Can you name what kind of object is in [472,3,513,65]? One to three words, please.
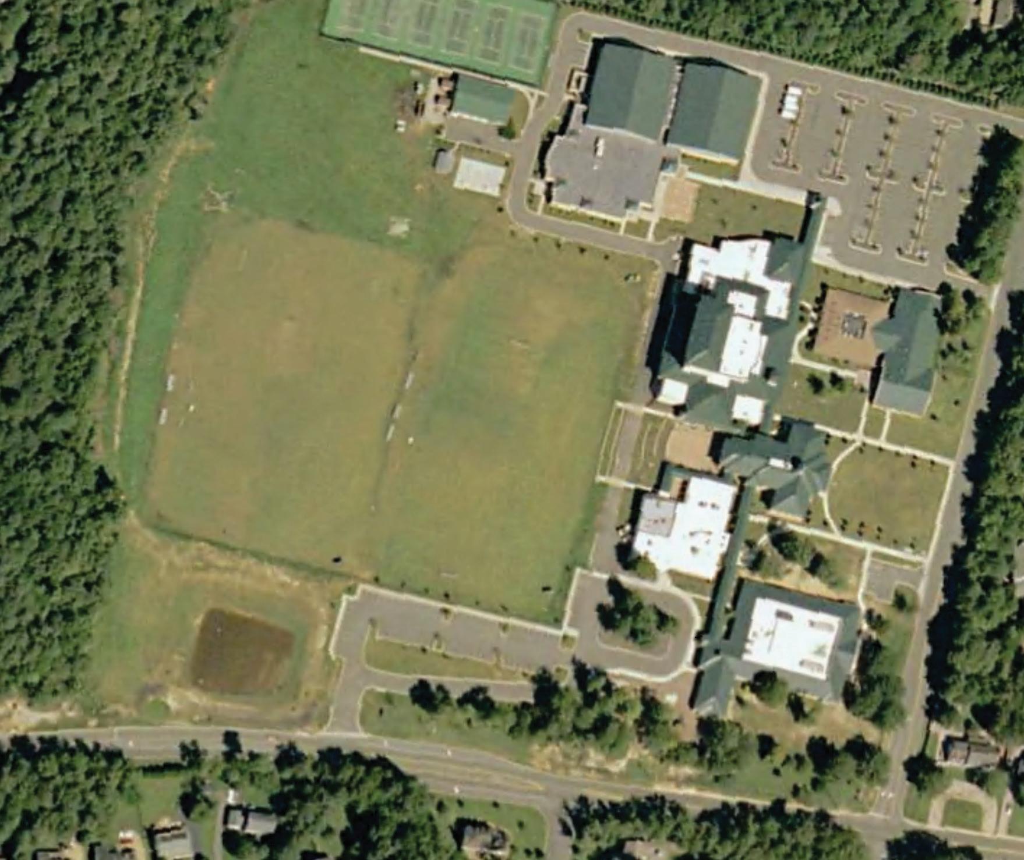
tennis court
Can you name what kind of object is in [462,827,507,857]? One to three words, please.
house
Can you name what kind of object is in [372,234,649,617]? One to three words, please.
sports field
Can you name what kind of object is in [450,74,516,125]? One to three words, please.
building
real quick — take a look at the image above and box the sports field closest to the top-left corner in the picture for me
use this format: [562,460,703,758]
[145,214,423,573]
